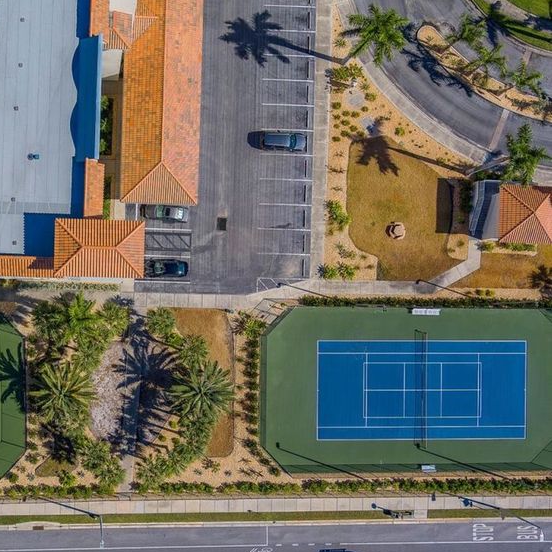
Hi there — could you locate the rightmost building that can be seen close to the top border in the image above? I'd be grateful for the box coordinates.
[120,0,204,205]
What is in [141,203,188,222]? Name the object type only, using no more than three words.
car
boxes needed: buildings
[482,183,552,245]
[120,0,204,205]
[0,0,146,285]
